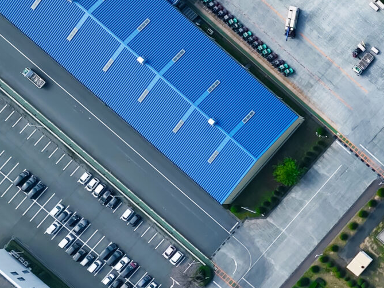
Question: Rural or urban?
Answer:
urban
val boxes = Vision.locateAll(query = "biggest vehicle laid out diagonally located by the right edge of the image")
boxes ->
[352,48,376,76]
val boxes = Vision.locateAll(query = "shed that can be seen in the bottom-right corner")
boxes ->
[346,250,374,275]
